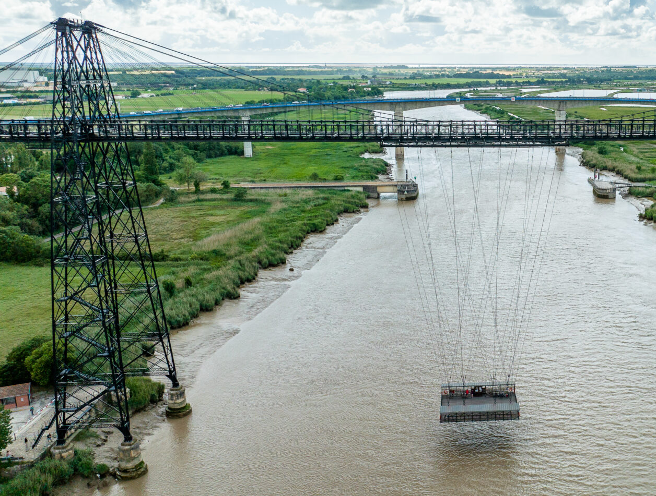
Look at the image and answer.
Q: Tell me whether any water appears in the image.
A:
Yes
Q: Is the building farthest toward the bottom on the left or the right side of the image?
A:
left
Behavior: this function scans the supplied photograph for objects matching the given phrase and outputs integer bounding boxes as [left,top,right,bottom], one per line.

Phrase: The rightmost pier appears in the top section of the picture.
[587,174,616,202]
